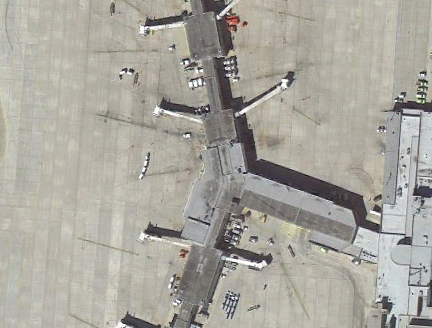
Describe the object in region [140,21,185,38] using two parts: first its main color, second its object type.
white jet bridge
